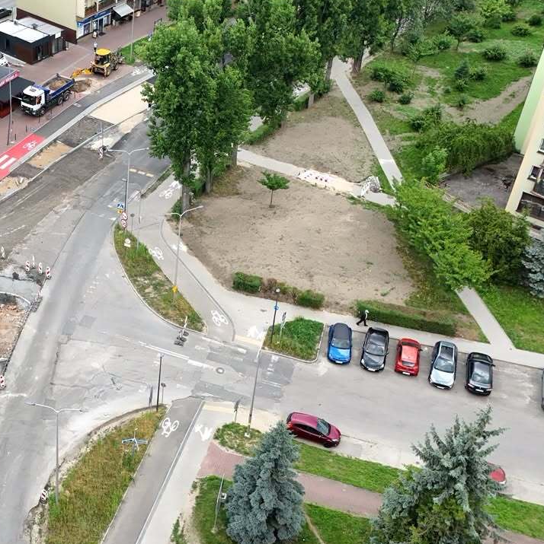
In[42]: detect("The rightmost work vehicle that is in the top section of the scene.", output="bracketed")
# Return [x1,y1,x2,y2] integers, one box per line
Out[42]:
[70,45,130,80]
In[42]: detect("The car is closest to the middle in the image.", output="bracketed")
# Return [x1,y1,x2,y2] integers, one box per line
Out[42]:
[327,320,355,363]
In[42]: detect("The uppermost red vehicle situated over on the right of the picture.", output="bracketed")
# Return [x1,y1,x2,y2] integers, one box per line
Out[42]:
[395,336,426,376]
